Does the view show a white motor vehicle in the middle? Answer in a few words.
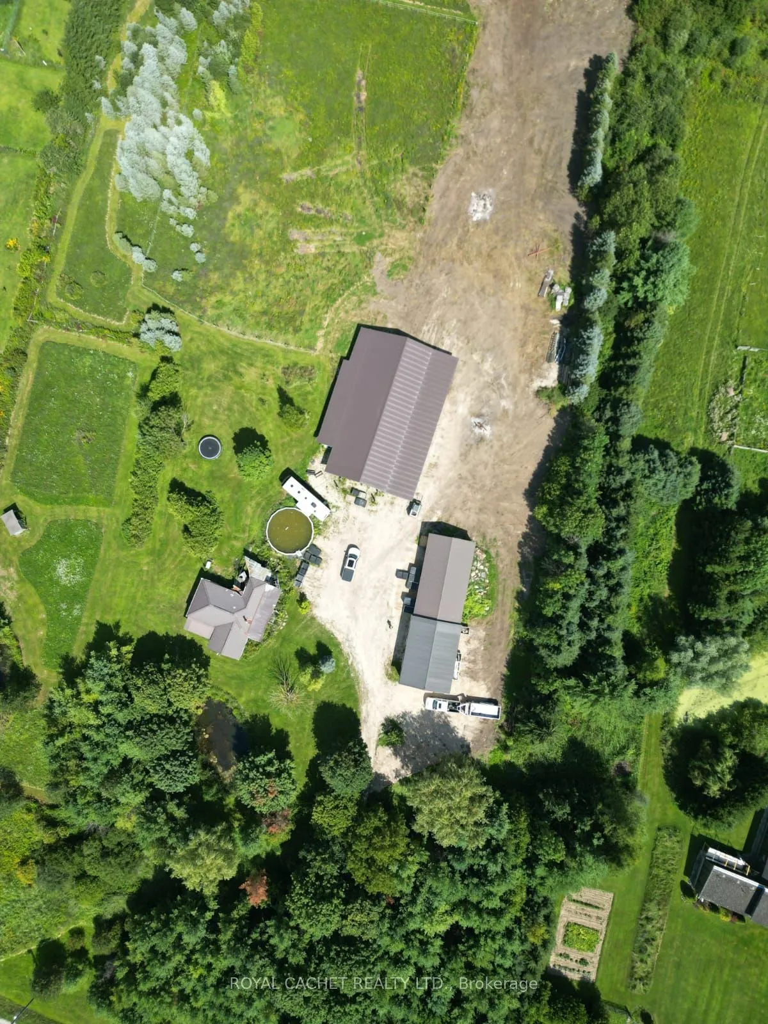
Yes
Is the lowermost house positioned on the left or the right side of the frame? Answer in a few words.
right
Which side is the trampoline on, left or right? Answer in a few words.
left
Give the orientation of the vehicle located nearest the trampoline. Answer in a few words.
diagonally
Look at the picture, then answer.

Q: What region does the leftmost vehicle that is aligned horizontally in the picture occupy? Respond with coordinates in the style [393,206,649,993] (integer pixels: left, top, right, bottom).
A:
[425,697,462,714]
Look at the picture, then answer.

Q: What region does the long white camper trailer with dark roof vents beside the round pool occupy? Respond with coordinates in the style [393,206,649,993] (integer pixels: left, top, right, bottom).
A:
[283,476,334,523]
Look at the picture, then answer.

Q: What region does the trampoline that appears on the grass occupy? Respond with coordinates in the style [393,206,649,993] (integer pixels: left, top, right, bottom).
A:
[199,437,221,459]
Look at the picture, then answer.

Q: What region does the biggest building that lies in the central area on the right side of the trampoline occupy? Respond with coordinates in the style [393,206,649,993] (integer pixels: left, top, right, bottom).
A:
[317,327,458,500]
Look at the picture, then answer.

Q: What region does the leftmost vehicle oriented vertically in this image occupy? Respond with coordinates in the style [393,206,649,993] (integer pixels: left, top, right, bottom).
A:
[340,547,359,584]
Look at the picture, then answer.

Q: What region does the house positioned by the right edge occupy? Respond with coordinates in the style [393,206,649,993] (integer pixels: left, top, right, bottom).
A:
[693,811,768,927]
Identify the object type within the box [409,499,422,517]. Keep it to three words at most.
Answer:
vehicle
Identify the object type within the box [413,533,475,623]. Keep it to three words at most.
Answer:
shed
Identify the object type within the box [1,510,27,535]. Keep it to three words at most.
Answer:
shed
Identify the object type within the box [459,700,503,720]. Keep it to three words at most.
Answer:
trailer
